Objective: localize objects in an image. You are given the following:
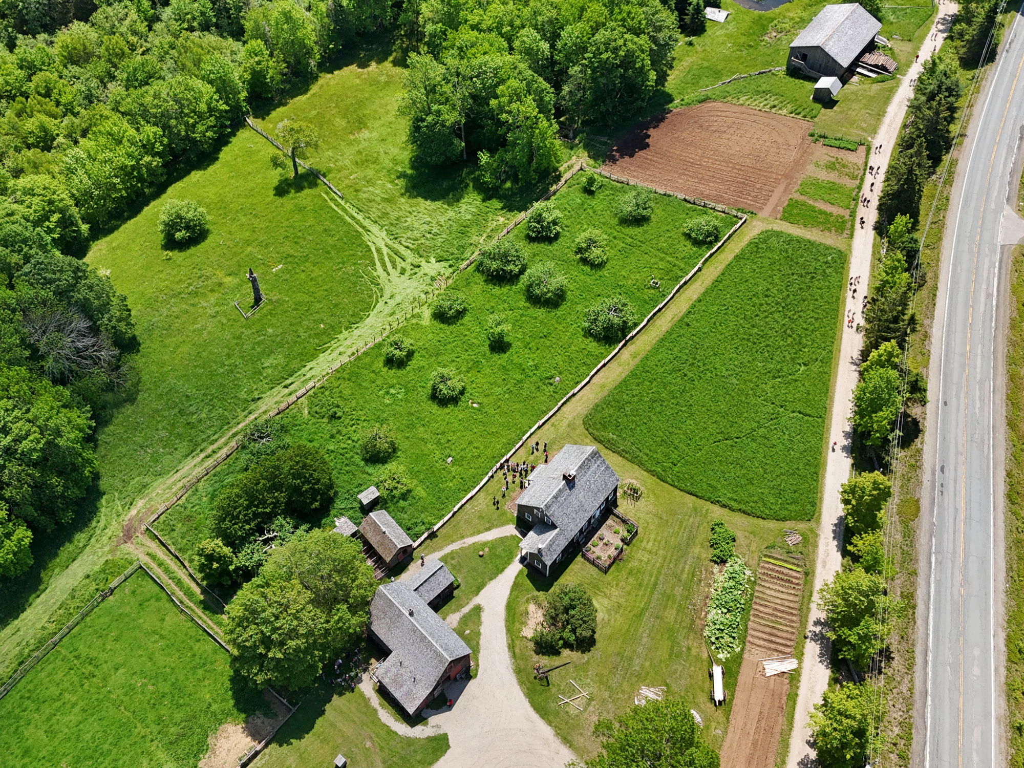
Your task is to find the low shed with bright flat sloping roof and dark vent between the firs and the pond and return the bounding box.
[705,6,730,26]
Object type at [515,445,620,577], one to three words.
house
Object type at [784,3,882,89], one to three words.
barn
